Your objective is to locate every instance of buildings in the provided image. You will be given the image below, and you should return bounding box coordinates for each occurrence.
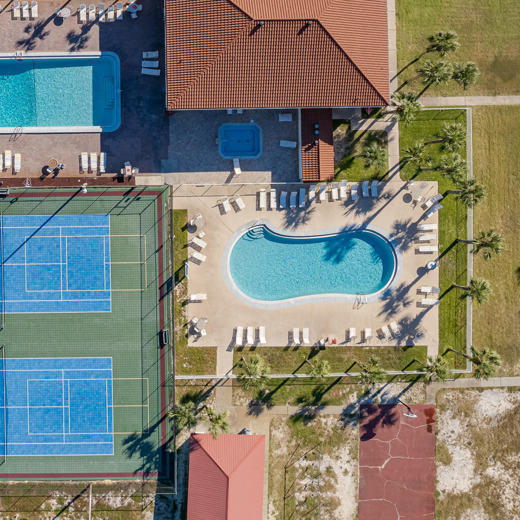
[165,0,392,110]
[184,423,265,520]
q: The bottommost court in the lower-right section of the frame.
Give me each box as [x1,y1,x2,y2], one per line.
[358,405,436,520]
